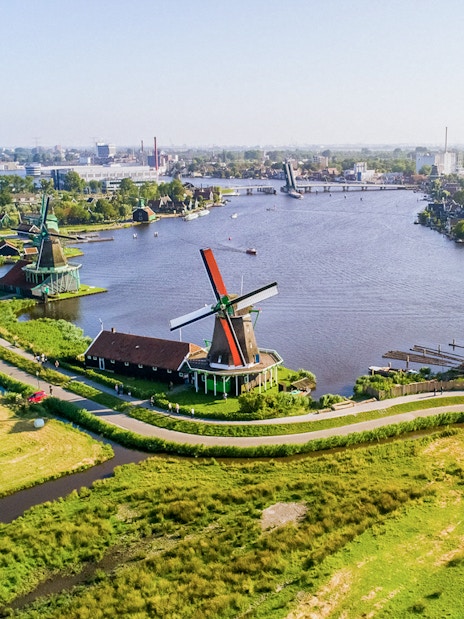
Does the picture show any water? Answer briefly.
Yes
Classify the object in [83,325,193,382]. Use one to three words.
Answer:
house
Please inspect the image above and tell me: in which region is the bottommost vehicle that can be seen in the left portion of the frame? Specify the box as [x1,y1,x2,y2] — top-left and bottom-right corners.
[24,389,48,403]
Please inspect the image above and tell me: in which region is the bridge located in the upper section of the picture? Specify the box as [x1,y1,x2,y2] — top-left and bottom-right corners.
[210,158,421,196]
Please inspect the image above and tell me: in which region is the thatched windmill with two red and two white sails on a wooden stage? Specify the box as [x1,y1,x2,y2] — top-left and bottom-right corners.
[170,245,282,398]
